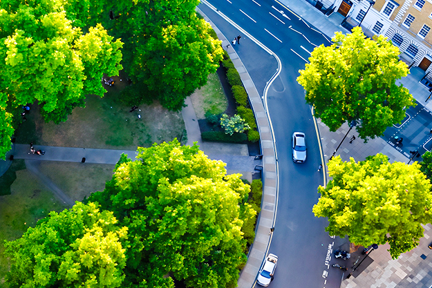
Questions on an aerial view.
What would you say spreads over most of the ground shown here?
trees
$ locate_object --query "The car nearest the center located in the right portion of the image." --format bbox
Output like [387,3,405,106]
[291,133,307,162]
